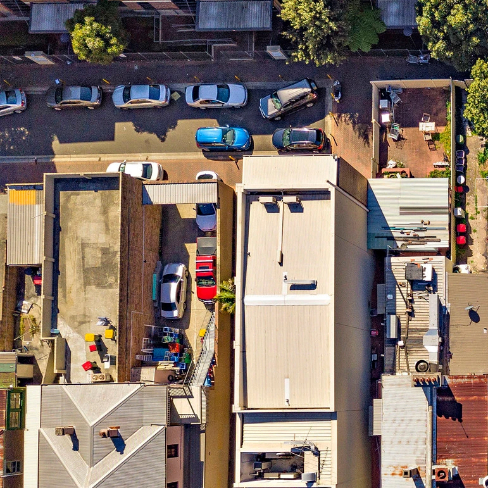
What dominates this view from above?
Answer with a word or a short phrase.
buildings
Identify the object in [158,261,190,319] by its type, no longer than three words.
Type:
car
